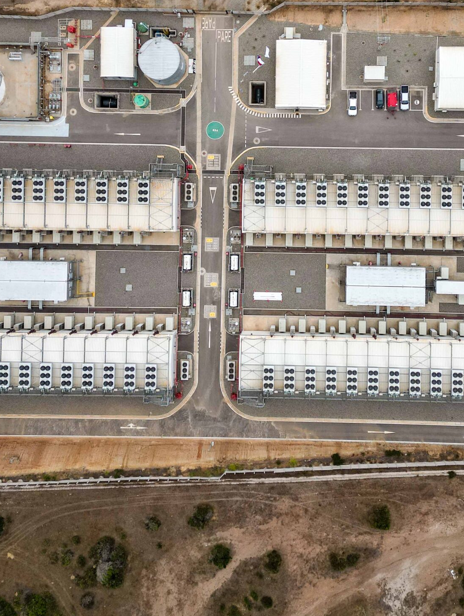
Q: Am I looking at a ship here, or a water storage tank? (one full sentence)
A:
Looking from above, you can make out a water storage tank.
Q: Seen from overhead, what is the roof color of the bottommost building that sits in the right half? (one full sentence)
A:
The roof over the bottommost building that sits in the right half appears white.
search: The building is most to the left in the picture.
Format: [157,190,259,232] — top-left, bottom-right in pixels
[0,247,74,310]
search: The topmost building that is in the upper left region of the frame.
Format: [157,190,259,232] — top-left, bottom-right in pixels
[101,25,136,80]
